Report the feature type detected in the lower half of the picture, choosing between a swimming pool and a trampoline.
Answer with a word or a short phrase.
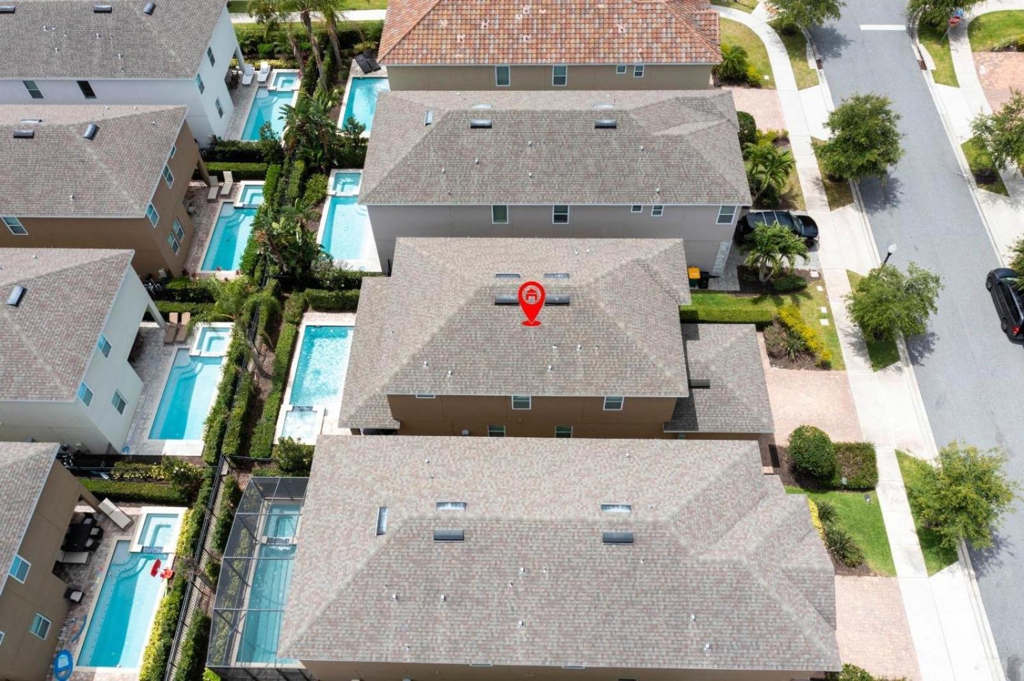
swimming pool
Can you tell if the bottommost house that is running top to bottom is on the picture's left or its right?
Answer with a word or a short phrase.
left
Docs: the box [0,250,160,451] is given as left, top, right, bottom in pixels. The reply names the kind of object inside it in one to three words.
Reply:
house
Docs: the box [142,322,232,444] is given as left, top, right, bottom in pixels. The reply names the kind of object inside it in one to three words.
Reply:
swimming pool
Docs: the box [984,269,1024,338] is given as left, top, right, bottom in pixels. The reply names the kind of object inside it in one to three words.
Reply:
car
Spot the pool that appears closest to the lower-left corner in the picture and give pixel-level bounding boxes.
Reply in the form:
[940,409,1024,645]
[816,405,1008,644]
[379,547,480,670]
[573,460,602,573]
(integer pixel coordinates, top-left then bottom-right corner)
[71,509,182,675]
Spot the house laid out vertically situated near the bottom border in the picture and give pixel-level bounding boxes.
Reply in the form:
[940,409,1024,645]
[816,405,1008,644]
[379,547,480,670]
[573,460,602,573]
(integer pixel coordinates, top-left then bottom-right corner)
[0,441,97,681]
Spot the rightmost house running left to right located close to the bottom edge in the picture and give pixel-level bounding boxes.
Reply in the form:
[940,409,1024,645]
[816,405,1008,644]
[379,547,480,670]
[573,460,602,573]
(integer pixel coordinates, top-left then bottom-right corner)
[274,435,846,681]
